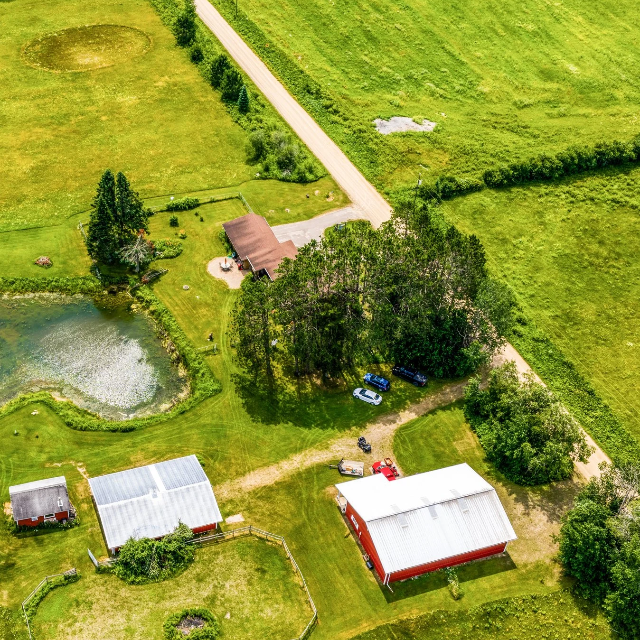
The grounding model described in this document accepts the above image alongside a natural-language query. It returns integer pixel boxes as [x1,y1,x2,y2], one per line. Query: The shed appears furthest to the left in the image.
[8,477,72,528]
